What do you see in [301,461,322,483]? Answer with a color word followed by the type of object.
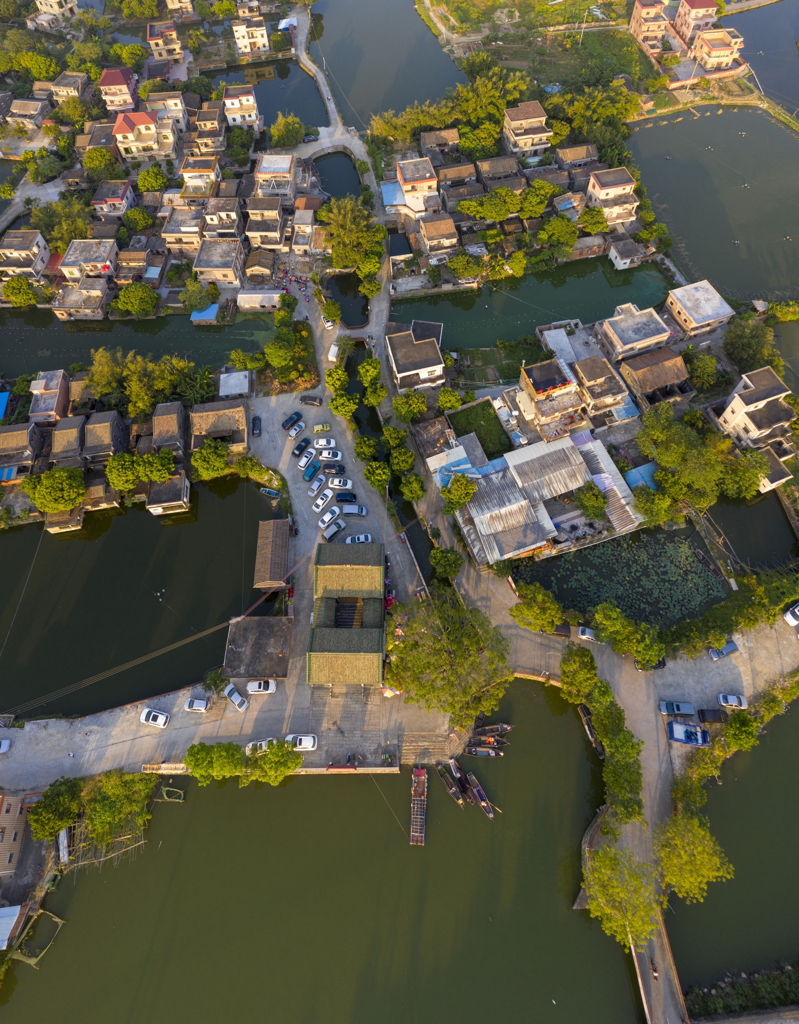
blue car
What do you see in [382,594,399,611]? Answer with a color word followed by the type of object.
red umbrella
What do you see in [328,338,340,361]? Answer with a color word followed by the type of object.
white vehicle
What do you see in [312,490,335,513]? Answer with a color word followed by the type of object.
white car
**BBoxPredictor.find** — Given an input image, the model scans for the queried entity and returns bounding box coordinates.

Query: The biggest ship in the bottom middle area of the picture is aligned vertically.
[409,761,428,845]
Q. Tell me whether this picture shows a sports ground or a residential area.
residential area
